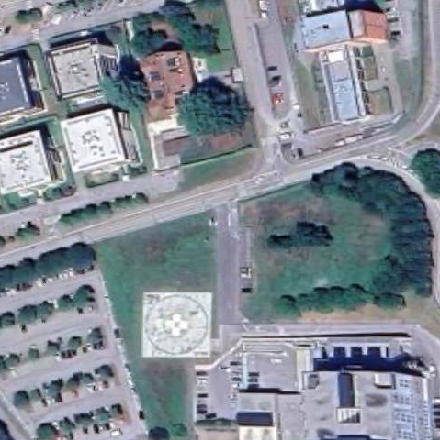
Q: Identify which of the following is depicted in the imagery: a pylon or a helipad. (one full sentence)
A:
It is a helipad that can be seen here.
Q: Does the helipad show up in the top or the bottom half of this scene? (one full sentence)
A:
Seen from above, the helipad lies in the bottom half of the view.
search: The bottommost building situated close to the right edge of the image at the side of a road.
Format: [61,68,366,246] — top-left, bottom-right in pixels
[302,372,421,440]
